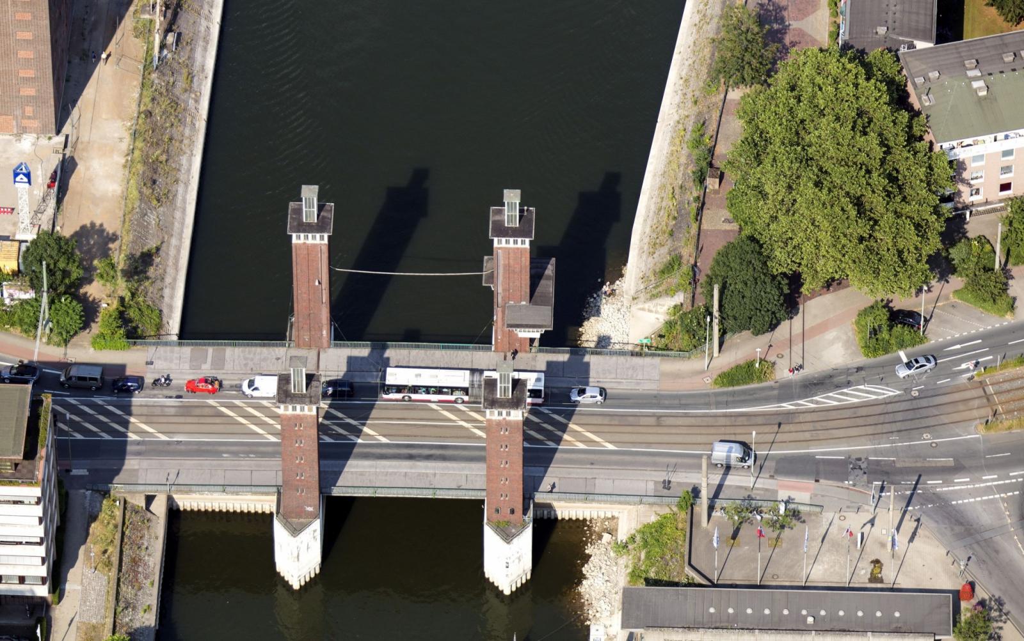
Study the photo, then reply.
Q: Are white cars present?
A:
Yes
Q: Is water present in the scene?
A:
Yes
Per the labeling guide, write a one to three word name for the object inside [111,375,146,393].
car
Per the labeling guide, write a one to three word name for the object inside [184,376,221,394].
car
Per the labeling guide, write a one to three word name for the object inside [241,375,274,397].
vehicle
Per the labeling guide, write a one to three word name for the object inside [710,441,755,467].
vehicle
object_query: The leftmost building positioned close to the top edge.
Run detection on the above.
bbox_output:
[0,0,72,134]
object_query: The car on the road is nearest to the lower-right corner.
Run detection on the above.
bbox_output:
[895,353,938,379]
